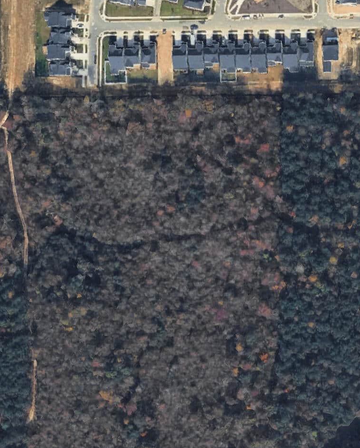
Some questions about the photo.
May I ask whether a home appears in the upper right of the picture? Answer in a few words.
Yes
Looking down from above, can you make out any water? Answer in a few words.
No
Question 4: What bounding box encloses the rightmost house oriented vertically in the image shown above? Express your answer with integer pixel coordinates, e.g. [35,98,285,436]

[322,36,339,73]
